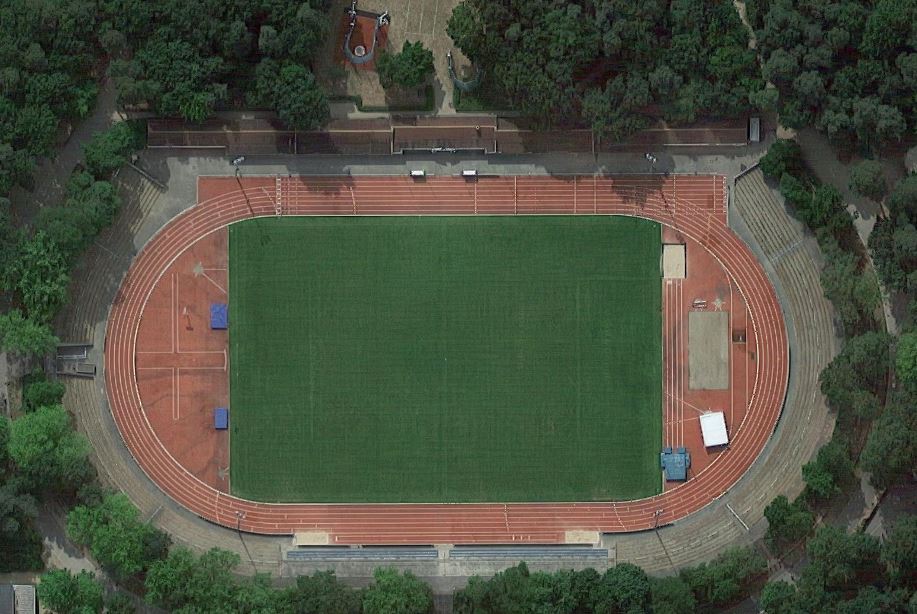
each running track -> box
[104,176,787,545]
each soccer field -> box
[228,217,664,503]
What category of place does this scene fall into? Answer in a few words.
sports ground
